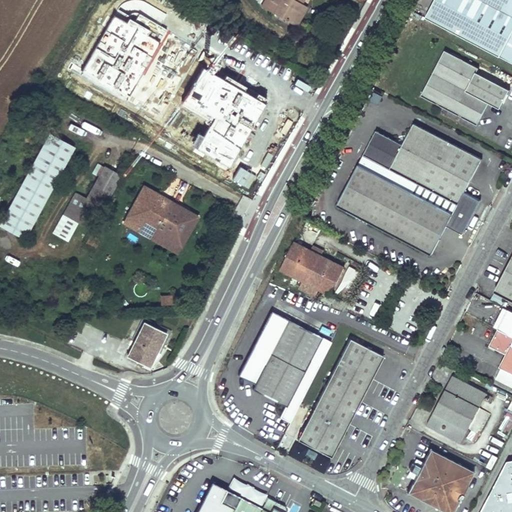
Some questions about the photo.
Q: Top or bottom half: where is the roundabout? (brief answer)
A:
bottom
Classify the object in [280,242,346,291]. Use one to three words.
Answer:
house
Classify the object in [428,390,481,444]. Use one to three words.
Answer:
building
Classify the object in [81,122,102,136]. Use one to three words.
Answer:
vehicle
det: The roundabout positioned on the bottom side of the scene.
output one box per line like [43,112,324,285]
[128,376,222,466]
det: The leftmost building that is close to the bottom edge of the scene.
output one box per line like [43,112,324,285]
[198,484,262,512]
